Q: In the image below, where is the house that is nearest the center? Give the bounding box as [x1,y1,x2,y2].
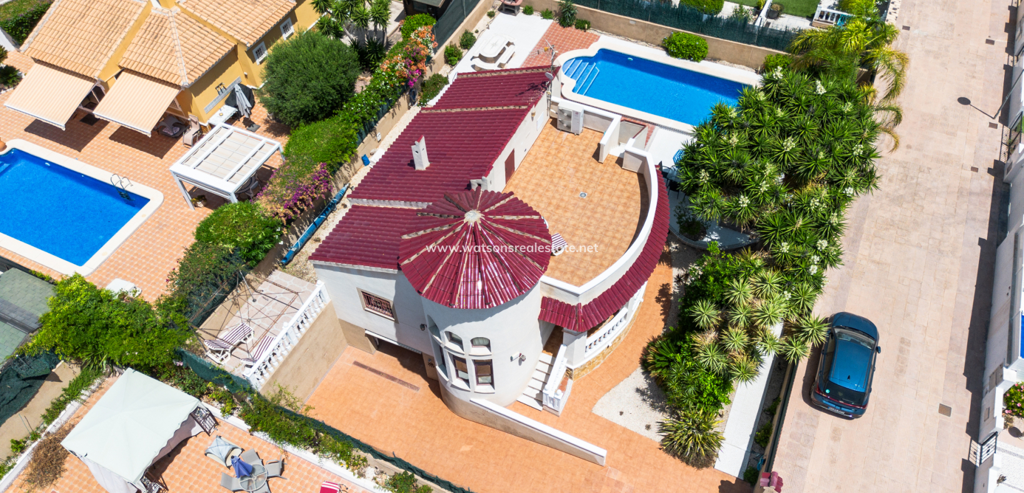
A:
[302,51,670,420]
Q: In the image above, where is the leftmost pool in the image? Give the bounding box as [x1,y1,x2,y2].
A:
[0,150,147,266]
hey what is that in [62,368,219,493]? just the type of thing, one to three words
gazebo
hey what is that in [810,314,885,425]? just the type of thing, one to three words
car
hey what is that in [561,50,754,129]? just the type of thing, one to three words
swimming pool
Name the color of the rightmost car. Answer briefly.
blue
